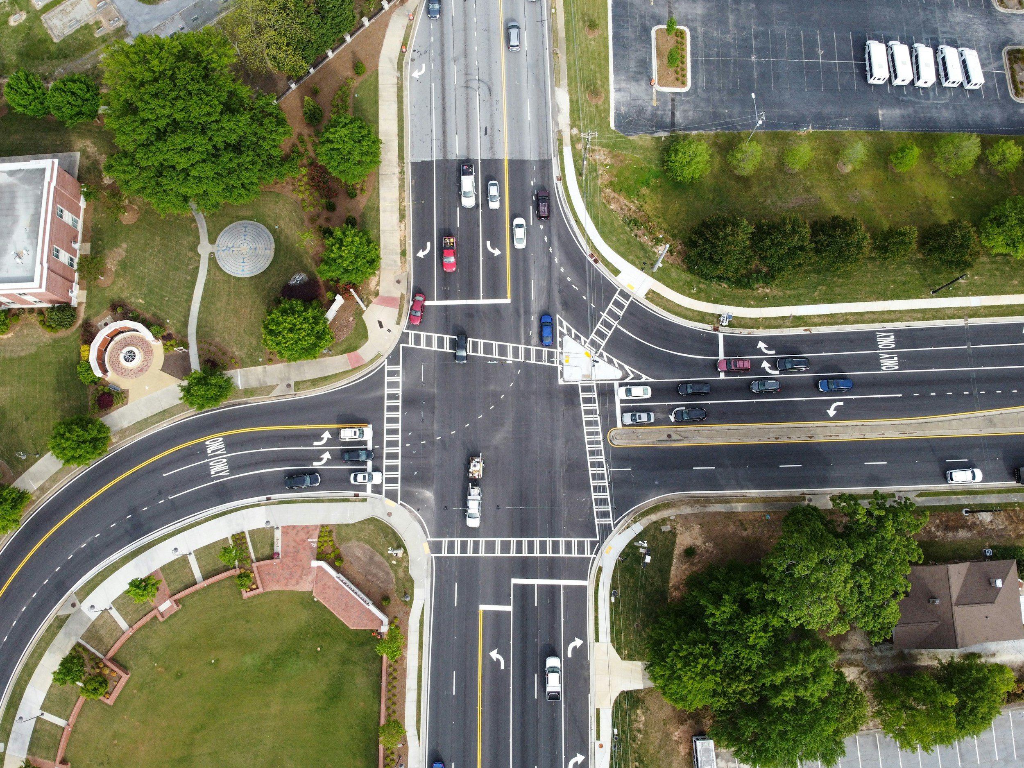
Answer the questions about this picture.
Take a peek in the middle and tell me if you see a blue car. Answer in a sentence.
Yes, looking in the middle, one can make out a blue car.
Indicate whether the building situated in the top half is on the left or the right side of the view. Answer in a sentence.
The building situated in the top half is on the left side of the image.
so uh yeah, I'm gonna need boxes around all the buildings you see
[0,156,84,310]
[893,560,1024,649]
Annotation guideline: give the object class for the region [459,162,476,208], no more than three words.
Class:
vehicle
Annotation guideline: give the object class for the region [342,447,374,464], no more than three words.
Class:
car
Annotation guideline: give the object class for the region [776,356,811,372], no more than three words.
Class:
car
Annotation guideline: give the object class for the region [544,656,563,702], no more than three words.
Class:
vehicle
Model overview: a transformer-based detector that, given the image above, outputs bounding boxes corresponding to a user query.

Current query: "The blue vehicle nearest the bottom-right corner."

[818,376,854,393]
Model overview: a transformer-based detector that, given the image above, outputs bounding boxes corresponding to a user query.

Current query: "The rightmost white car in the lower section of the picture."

[945,467,983,484]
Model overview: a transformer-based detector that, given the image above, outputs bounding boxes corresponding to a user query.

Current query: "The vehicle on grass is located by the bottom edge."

[694,735,718,768]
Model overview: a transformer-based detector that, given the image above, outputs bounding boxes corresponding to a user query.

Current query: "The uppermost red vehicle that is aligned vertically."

[441,236,457,272]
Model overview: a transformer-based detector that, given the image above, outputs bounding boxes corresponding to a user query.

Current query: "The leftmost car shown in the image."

[284,472,321,489]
